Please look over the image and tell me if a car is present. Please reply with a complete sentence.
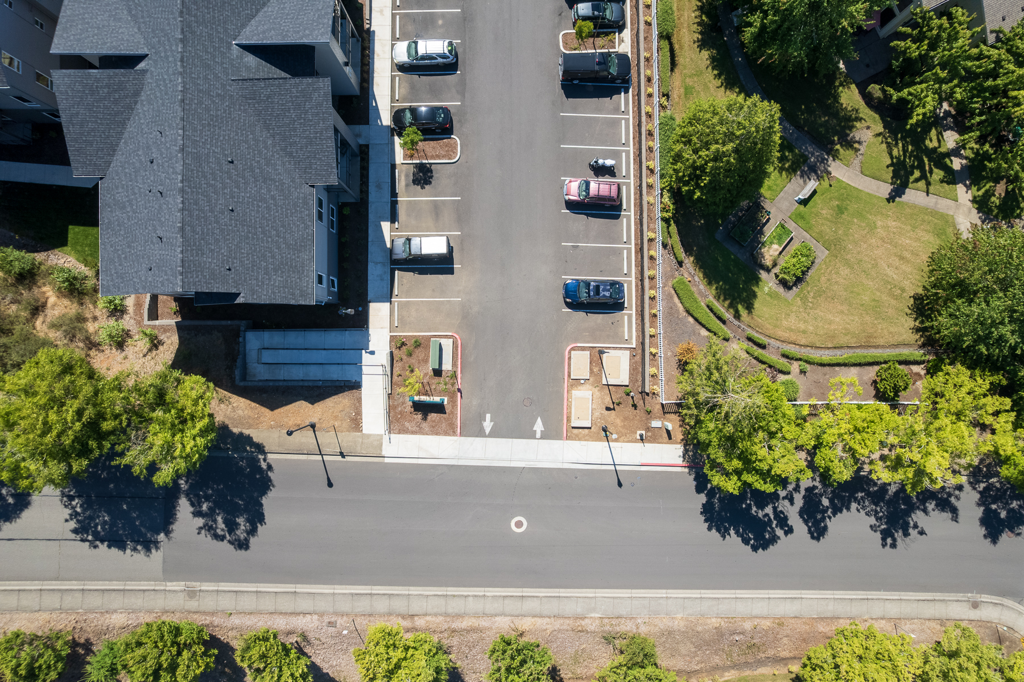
Yes, there's a car down there.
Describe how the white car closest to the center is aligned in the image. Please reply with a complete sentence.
In this picture, the white car closest to the center lies from left to right.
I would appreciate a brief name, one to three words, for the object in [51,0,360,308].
building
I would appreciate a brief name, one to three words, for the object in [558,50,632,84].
truck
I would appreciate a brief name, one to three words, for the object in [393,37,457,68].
car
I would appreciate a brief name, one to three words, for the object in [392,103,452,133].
car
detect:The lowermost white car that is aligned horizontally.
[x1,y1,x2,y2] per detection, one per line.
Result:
[389,234,453,262]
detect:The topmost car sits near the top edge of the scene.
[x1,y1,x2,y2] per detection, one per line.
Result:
[571,0,625,29]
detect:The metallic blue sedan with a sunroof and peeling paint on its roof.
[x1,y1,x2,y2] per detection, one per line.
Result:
[562,277,624,305]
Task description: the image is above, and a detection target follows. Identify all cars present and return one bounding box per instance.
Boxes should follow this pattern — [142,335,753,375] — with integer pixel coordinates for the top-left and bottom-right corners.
[562,277,624,305]
[561,176,622,206]
[392,103,452,133]
[571,0,625,29]
[389,234,453,262]
[393,37,457,68]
